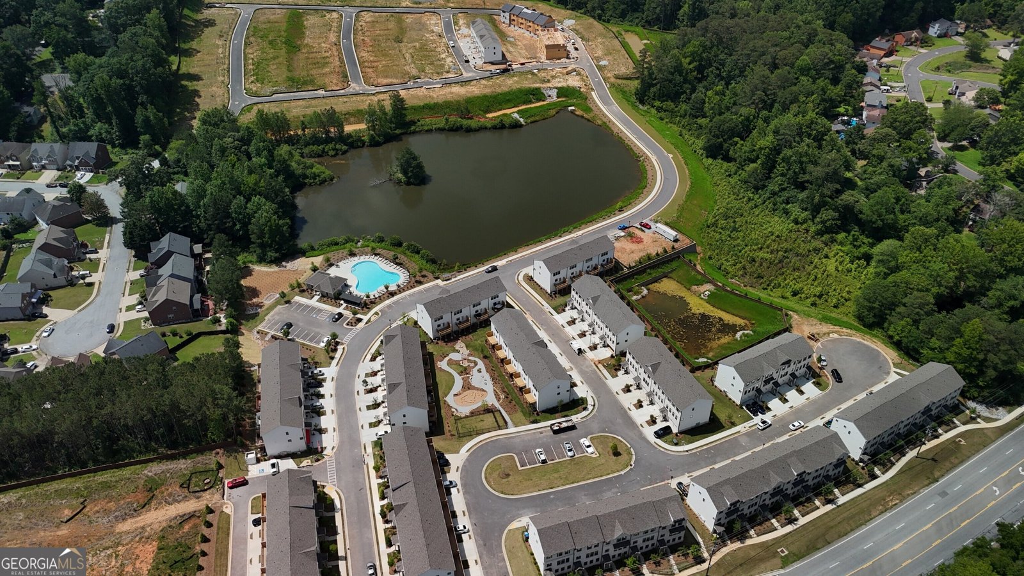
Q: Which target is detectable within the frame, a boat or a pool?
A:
pool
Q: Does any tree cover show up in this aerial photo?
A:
Yes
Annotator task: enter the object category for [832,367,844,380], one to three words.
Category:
vehicle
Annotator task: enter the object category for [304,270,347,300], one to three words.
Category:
building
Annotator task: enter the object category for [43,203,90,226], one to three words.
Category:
house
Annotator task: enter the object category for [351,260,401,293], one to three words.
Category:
swimming pool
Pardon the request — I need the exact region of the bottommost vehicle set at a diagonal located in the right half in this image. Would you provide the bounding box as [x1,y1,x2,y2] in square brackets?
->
[674,479,689,499]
